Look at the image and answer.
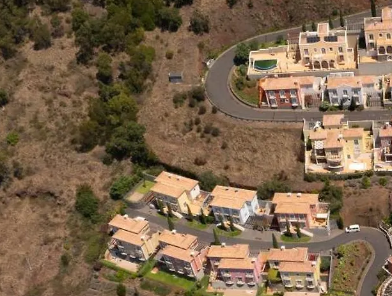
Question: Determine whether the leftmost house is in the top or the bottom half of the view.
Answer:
bottom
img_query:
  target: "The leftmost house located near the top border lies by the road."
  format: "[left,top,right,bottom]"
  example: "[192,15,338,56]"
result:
[247,11,358,86]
